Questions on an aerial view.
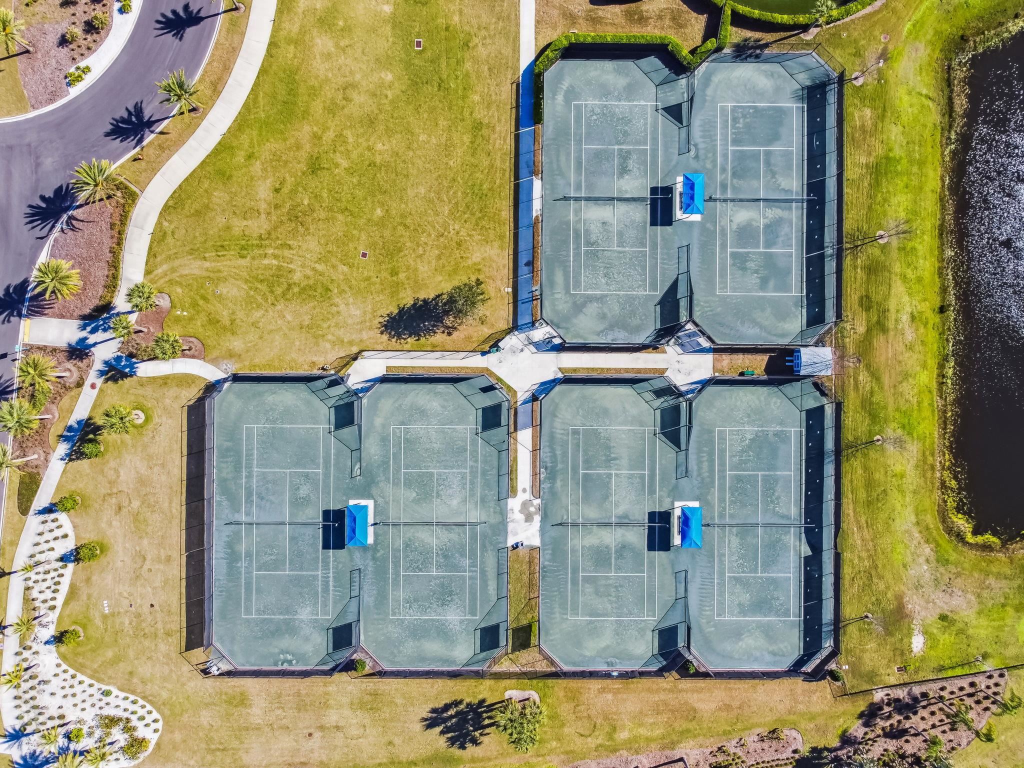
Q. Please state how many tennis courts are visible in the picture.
six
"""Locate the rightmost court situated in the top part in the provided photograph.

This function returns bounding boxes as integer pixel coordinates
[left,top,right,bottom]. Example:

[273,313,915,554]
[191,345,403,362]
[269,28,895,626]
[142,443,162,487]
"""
[689,53,835,346]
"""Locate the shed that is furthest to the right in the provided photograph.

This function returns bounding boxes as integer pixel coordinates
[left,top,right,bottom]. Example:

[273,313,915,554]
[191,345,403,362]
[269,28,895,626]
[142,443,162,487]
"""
[786,346,834,375]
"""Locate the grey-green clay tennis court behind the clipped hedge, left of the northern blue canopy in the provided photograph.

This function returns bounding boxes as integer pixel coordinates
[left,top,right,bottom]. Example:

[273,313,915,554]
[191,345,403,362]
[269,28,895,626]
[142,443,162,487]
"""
[542,52,689,344]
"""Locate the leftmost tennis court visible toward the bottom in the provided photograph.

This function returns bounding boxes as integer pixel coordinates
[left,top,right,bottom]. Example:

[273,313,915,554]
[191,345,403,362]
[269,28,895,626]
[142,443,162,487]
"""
[212,374,361,670]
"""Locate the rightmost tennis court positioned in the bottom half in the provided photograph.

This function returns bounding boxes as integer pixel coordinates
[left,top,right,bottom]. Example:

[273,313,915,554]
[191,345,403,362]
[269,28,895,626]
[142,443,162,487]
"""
[685,377,833,671]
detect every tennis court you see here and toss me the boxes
[689,53,835,346]
[212,374,361,670]
[685,377,833,671]
[360,375,509,670]
[542,52,689,344]
[540,376,687,670]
